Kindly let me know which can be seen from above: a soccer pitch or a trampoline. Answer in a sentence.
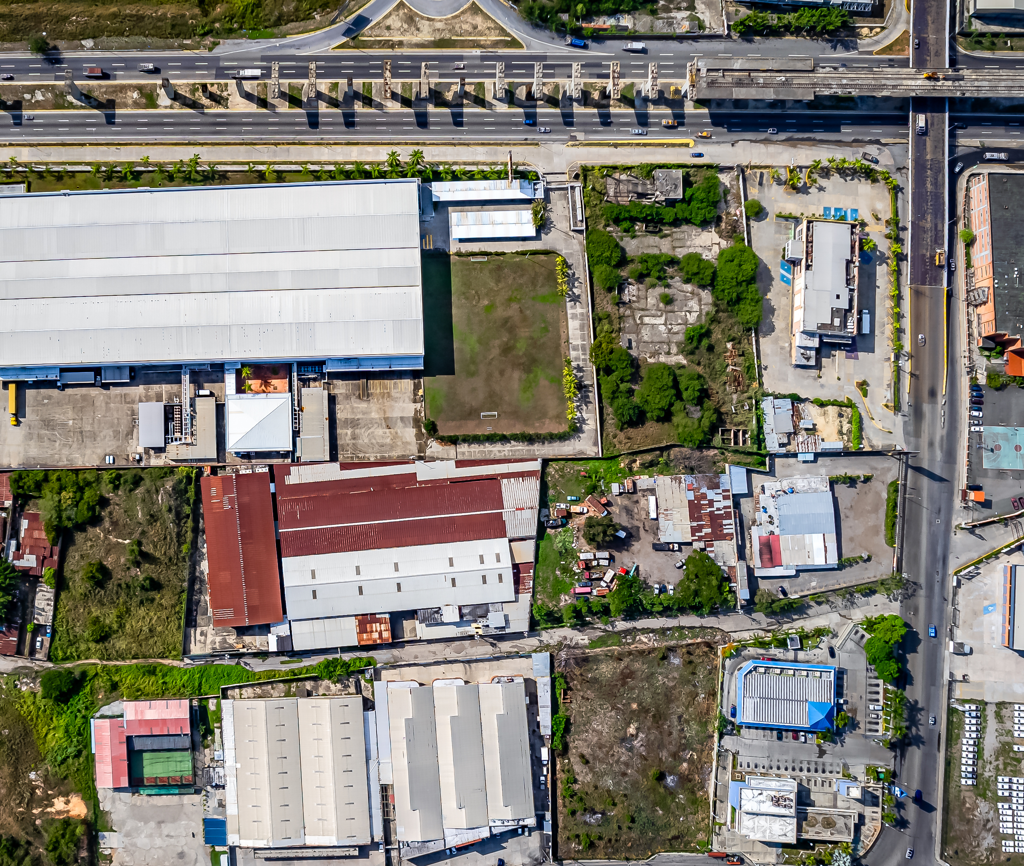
The one in the frame is a soccer pitch.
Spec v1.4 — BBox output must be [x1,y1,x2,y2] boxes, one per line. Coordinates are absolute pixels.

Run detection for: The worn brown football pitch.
[424,251,574,433]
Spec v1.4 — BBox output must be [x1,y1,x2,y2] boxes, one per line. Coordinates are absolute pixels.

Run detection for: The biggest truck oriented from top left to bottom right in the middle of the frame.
[584,494,607,516]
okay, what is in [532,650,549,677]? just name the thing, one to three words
shed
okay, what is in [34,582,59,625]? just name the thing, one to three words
house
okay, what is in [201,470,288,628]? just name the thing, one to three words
building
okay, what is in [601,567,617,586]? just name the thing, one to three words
vehicle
